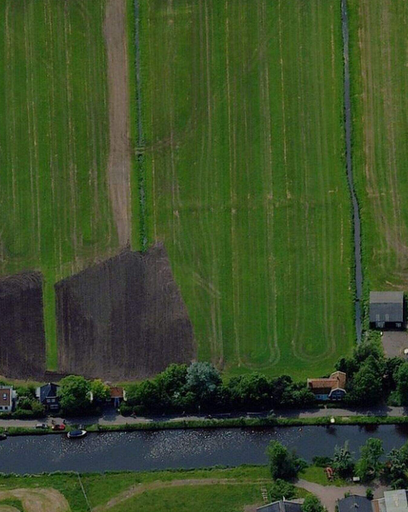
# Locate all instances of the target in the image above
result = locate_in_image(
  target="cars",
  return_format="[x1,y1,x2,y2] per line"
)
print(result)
[52,423,66,429]
[35,422,49,428]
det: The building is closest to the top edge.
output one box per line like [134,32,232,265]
[370,292,405,329]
